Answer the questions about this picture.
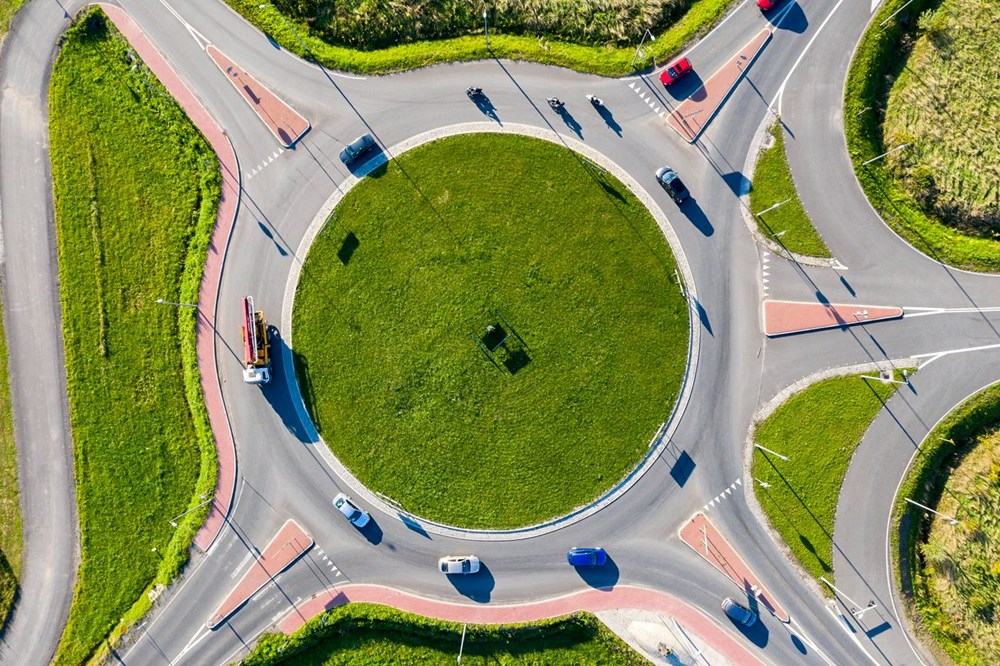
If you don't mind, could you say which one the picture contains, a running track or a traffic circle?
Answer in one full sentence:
The image shows a traffic circle.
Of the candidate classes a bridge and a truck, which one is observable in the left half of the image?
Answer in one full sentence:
The one visible in the left half of the image is a truck.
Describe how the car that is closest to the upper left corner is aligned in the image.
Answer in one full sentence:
The car that is closest to the upper left corner is oriented on a diagonal.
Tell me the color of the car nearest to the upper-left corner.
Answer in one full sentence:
From above, the car nearest to the upper-left corner appears blue.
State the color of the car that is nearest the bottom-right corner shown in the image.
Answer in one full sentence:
The car that is nearest the bottom-right corner is blue.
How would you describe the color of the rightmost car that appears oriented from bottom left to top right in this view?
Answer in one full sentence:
From above, the rightmost car that appears oriented from bottom left to top right appears red.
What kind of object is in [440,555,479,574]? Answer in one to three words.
car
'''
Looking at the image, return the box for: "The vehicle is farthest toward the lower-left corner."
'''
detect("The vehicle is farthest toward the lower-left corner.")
[333,491,370,525]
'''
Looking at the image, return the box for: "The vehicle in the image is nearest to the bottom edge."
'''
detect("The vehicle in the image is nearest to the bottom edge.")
[722,595,755,626]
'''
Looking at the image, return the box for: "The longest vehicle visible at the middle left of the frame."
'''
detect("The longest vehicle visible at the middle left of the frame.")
[242,302,274,384]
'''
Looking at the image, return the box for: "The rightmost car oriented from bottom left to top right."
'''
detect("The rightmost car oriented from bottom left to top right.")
[658,58,694,87]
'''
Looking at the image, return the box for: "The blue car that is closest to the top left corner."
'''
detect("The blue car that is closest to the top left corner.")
[338,133,375,166]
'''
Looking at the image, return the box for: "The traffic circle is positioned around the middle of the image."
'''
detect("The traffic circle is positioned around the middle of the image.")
[232,72,748,589]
